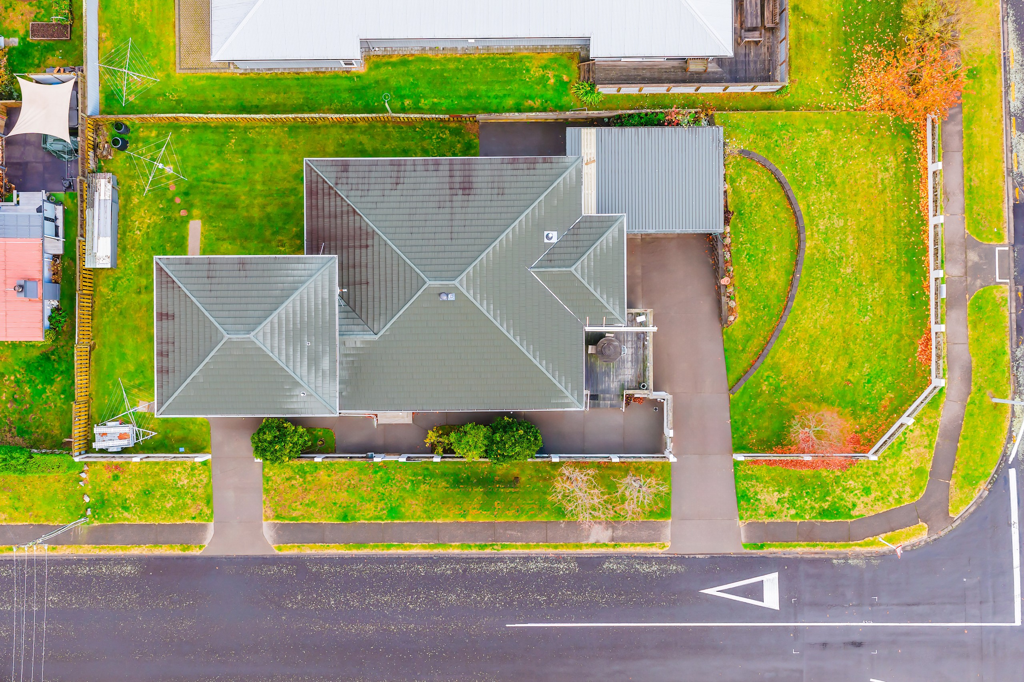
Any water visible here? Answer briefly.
No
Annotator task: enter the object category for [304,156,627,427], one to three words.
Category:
house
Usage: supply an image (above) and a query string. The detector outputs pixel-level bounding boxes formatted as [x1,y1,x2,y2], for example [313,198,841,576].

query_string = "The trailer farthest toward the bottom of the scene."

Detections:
[92,421,158,452]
